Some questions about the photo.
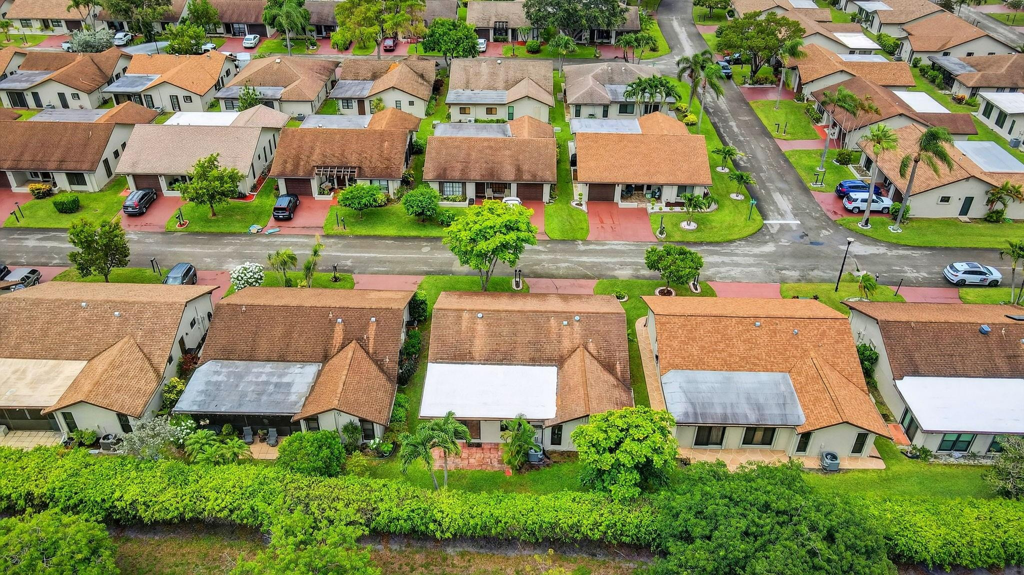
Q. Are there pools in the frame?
No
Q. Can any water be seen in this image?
No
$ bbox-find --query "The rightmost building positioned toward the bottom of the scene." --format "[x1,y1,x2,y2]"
[841,301,1024,459]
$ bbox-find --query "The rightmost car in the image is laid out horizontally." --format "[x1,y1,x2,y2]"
[941,261,1009,291]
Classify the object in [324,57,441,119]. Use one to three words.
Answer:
house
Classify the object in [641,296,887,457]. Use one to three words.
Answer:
house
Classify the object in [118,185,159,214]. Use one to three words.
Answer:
car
